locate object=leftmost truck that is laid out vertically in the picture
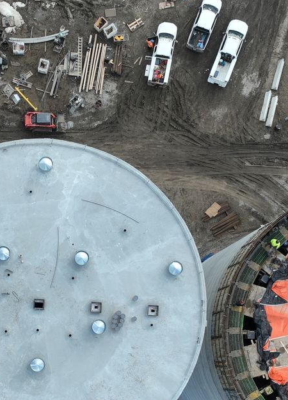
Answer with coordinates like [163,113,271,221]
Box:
[142,20,179,92]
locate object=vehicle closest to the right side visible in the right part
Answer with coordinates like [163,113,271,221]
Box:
[206,18,248,95]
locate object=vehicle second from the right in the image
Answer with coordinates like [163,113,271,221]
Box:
[185,0,222,57]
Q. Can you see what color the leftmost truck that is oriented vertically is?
white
